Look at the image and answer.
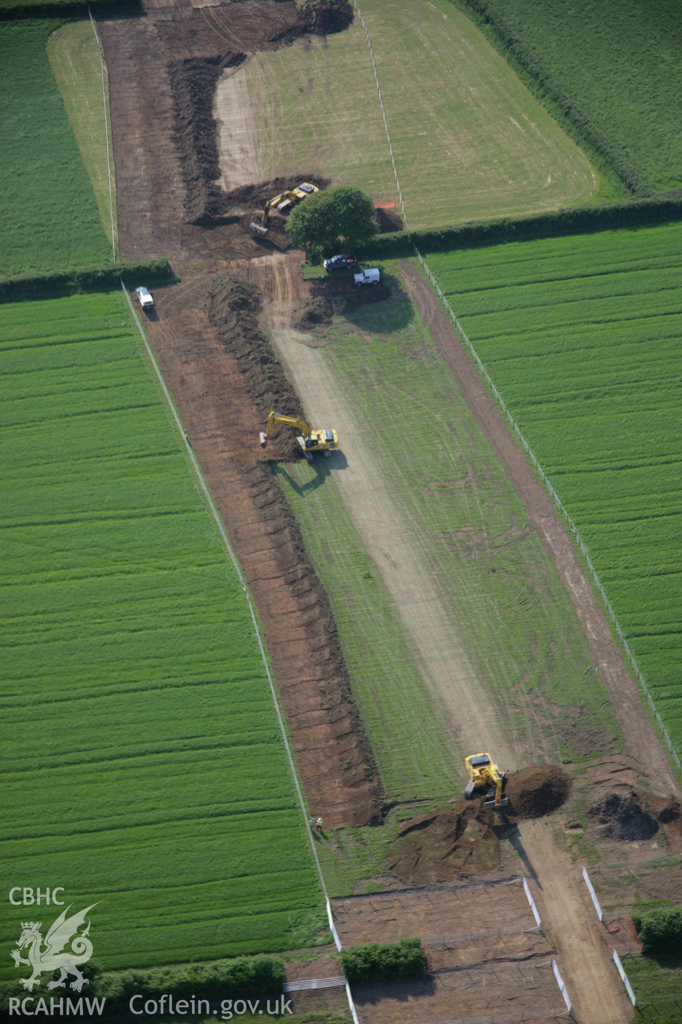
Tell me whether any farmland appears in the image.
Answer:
Yes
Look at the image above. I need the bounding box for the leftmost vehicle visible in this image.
[138,290,156,309]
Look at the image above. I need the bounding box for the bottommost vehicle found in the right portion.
[463,756,514,820]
